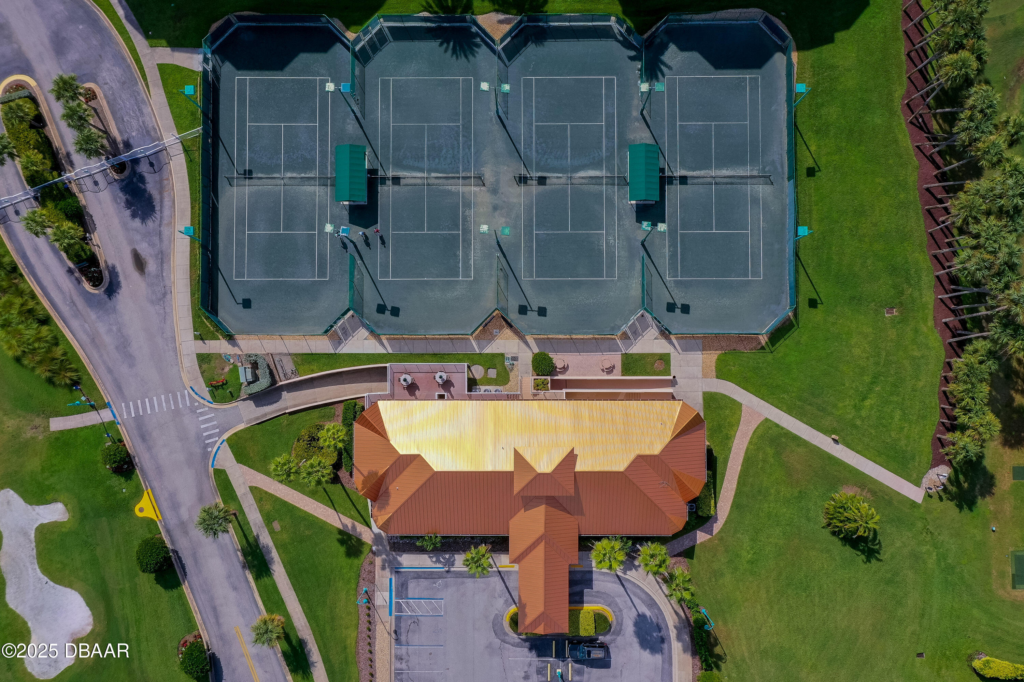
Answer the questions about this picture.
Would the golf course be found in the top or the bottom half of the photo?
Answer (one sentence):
The bottom half of the photo is where the golf course is.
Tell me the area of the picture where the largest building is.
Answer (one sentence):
You can find the largest building in the bottom area of the picture.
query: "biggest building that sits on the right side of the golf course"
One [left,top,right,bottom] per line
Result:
[353,398,707,635]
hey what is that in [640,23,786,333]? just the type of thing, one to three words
tennis court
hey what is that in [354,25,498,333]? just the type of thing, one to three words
tennis court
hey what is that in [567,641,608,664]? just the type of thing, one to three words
car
